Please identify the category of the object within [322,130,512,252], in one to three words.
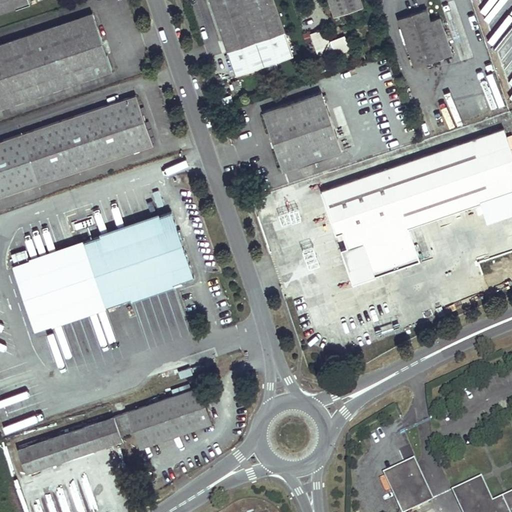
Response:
warehouse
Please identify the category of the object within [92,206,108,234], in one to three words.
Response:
vehicle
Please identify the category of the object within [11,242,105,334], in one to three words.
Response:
building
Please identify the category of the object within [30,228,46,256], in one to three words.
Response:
vehicle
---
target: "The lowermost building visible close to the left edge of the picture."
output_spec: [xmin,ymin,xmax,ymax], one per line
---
[18,420,122,478]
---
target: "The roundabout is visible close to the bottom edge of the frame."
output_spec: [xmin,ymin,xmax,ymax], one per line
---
[231,375,353,500]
